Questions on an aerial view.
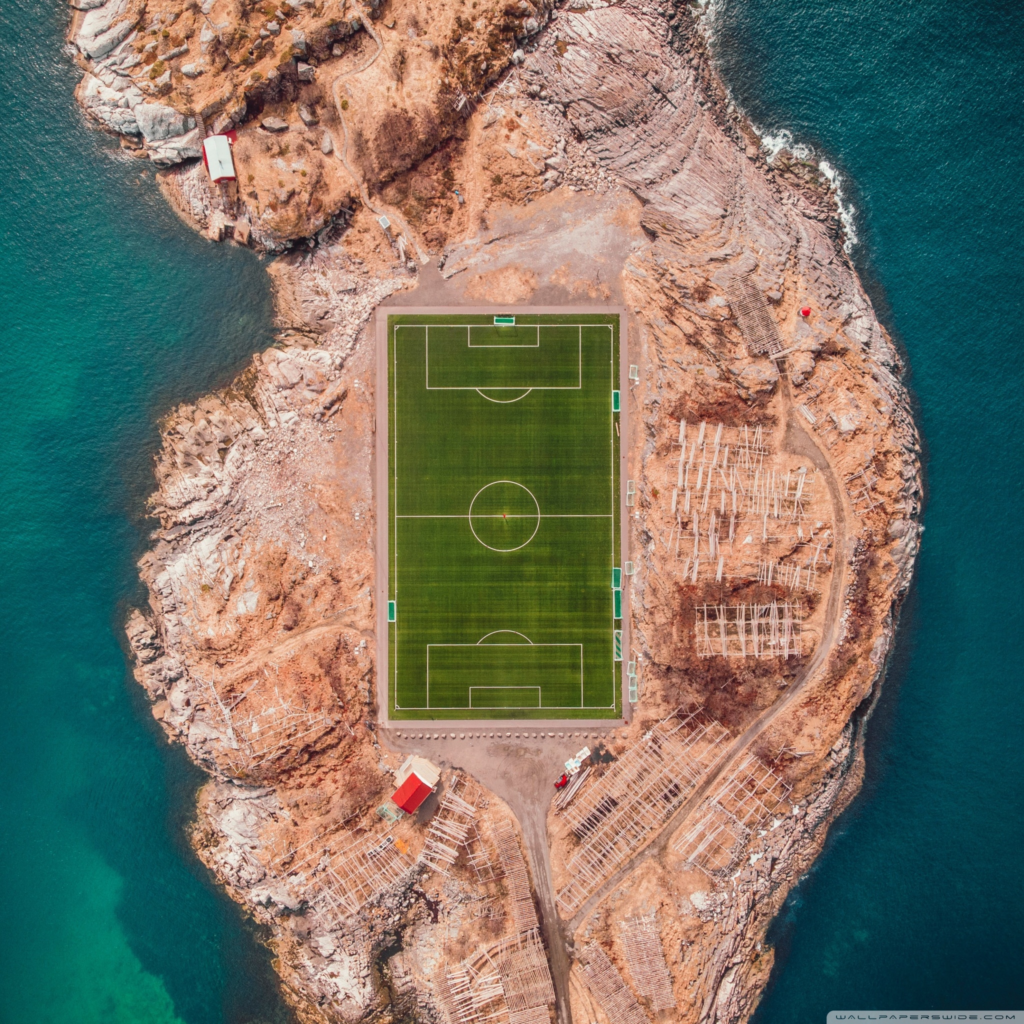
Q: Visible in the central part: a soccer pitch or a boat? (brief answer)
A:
soccer pitch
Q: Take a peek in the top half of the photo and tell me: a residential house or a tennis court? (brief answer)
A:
residential house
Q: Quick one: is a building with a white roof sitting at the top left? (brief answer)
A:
Yes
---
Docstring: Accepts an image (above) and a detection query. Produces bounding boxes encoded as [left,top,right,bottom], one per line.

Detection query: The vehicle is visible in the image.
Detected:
[553,773,568,789]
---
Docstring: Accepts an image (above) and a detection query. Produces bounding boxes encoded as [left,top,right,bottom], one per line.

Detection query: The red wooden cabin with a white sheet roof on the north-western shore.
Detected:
[203,133,236,185]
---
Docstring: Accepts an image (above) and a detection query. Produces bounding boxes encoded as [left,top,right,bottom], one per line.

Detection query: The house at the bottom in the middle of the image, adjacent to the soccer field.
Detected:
[392,754,441,814]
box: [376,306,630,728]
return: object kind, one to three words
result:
soccer field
